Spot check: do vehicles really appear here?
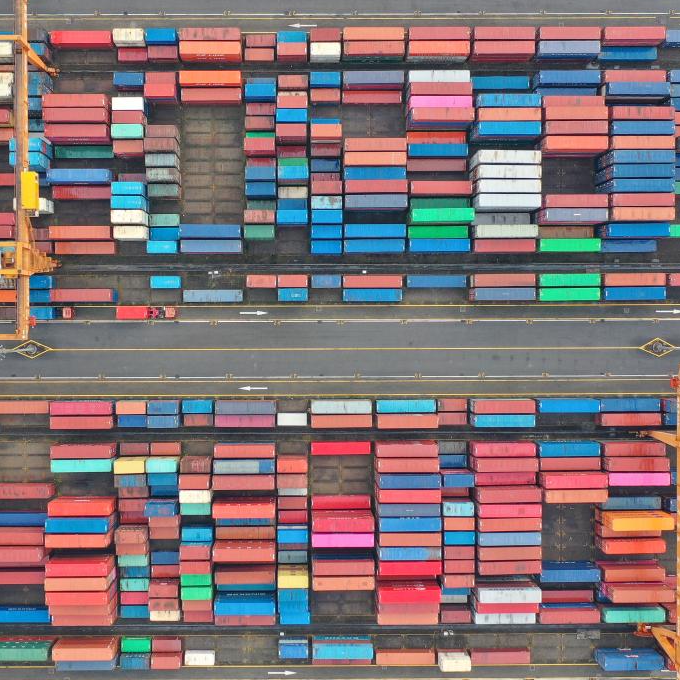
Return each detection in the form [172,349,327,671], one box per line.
[56,307,79,321]
[149,307,179,321]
